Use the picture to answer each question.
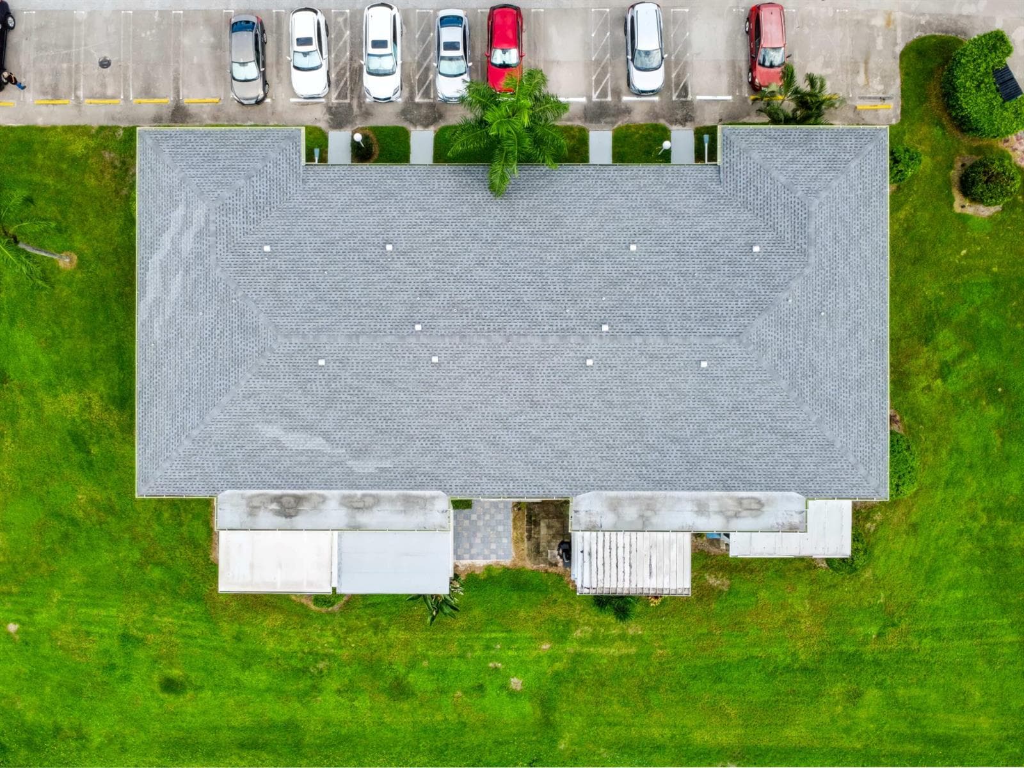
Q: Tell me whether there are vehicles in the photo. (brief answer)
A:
Yes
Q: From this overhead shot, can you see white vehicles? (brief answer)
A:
Yes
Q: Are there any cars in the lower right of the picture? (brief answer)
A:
No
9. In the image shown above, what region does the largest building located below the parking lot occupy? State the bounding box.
[136,127,889,533]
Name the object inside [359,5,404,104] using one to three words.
car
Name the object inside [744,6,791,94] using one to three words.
car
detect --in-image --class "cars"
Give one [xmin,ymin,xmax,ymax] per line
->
[224,14,270,108]
[359,5,404,104]
[483,8,527,96]
[744,6,791,94]
[0,1,13,93]
[625,4,670,98]
[285,9,330,101]
[431,8,474,105]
